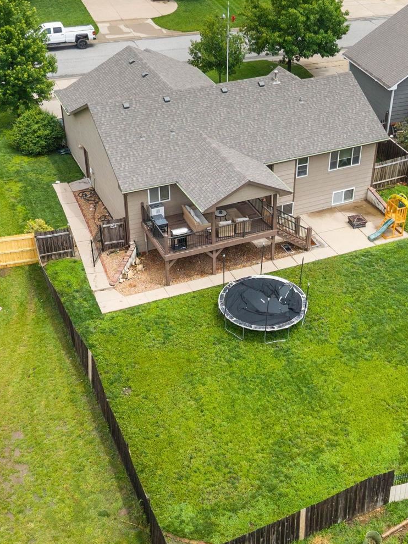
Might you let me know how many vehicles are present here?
1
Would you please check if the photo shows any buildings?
Yes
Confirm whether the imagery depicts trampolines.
Yes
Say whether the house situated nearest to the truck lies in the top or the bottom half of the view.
top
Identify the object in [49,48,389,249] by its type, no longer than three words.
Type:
house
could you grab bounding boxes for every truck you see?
[29,22,92,52]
